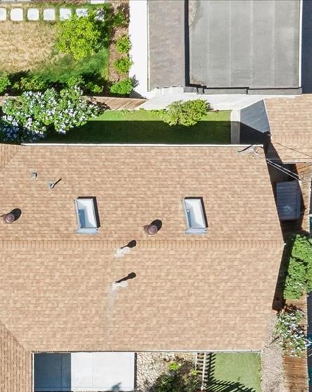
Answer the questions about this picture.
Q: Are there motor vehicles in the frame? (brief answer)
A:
No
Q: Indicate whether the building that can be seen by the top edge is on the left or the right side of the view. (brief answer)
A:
right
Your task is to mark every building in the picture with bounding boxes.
[133,0,303,107]
[0,143,282,392]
